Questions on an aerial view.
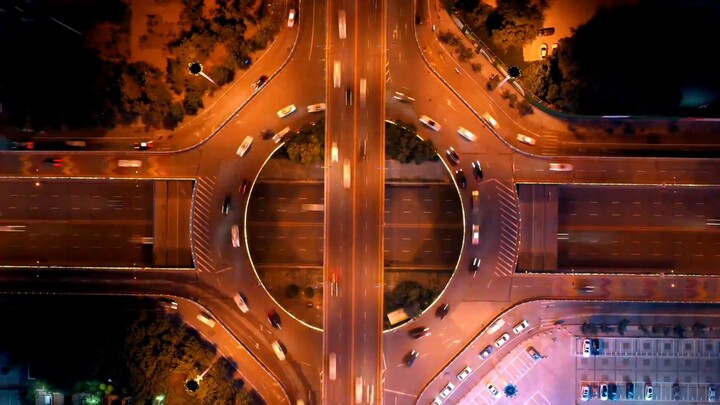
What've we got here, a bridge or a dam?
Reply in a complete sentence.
This aerial view contains a bridge.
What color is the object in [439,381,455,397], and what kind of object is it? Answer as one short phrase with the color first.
white car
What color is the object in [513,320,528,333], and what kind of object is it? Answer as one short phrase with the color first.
white vehicle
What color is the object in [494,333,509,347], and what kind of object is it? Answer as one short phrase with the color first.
white vehicle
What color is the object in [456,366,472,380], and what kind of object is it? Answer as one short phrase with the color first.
white car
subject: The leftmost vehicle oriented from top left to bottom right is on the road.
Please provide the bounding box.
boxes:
[199,314,215,327]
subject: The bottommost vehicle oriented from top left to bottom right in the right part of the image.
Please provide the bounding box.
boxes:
[487,382,501,397]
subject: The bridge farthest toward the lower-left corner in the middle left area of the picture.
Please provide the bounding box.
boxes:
[153,179,198,269]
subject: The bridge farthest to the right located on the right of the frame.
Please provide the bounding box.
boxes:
[512,184,560,274]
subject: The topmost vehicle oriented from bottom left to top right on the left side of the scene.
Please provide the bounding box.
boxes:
[254,74,269,89]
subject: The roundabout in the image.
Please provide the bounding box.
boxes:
[191,5,543,405]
